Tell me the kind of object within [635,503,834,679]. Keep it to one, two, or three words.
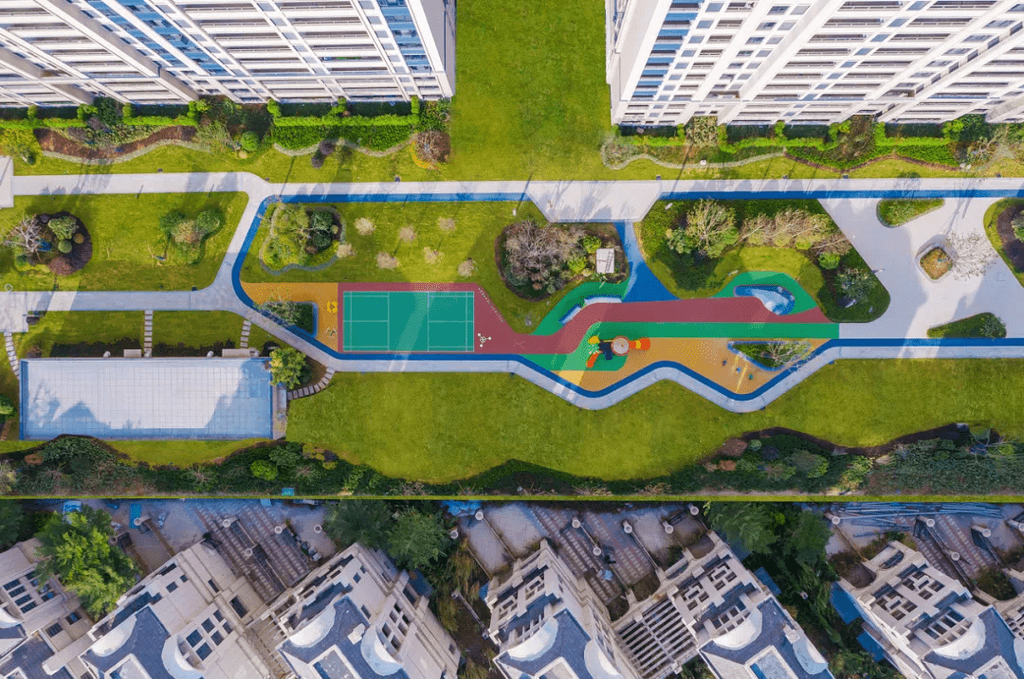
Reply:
house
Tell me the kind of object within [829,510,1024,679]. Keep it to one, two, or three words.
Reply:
house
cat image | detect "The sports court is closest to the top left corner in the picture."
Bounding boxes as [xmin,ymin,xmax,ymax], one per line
[343,292,474,352]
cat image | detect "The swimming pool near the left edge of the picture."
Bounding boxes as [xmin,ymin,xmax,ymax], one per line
[18,357,274,442]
